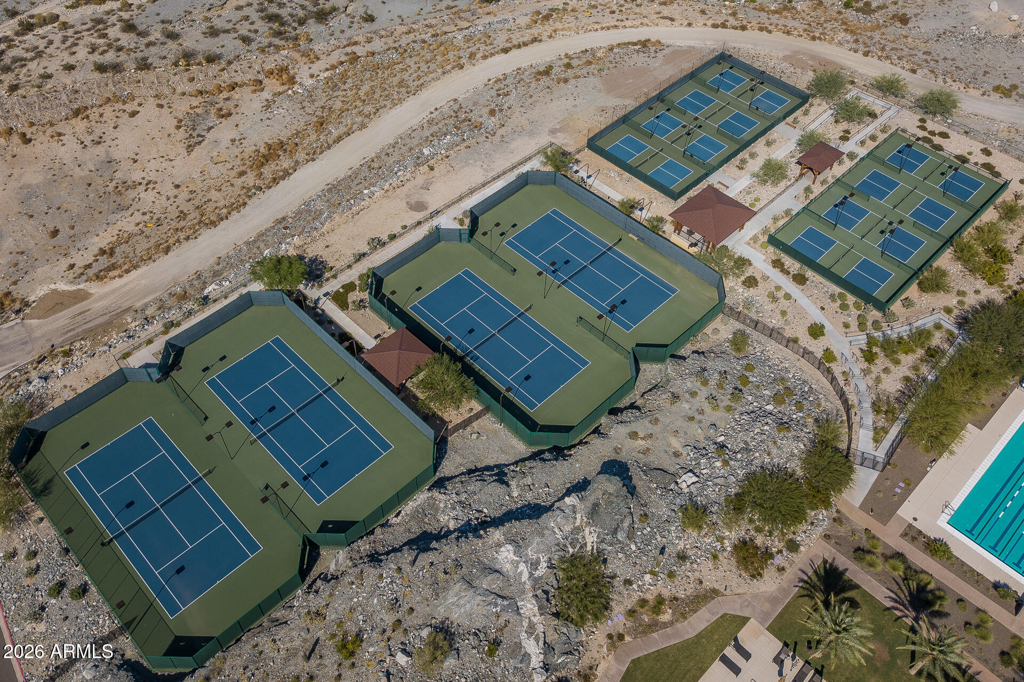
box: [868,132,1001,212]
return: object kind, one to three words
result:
sports court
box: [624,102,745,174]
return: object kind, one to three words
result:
sports court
